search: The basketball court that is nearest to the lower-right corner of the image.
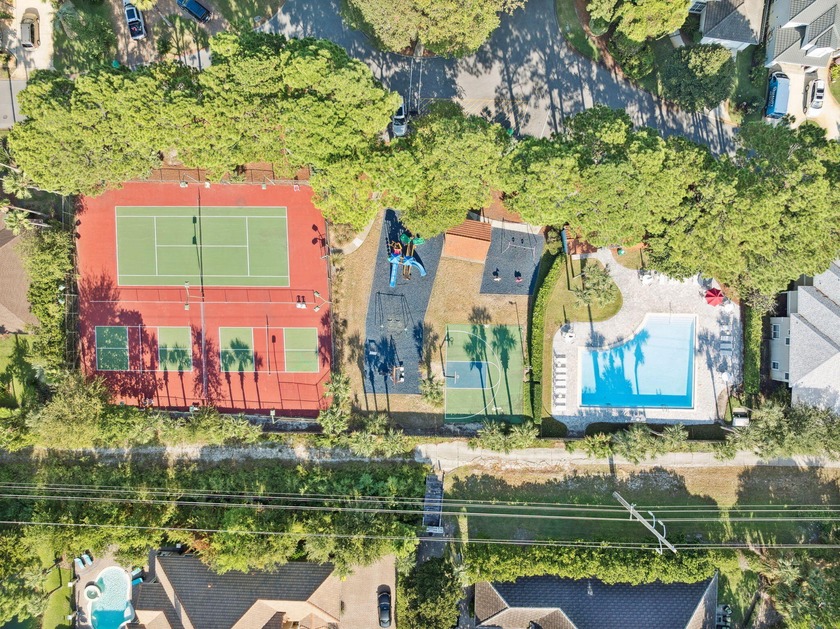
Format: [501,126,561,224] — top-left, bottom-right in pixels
[445,324,524,423]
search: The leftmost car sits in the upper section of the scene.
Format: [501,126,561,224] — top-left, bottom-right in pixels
[18,11,40,47]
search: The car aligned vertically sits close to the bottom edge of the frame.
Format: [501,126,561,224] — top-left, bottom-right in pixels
[377,590,394,627]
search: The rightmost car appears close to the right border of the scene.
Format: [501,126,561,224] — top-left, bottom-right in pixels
[804,78,827,115]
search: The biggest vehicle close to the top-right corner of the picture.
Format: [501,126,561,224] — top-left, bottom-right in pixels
[764,72,792,120]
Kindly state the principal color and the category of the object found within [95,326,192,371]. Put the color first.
green sports court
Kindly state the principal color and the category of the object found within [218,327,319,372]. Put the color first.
green sports court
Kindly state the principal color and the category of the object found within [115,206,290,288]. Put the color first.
green tennis court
